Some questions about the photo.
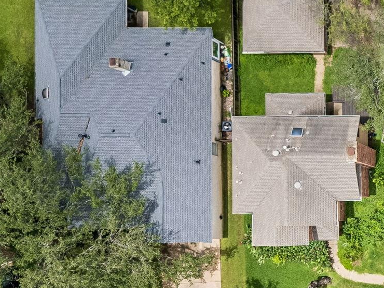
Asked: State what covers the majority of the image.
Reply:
buildings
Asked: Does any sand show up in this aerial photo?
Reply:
No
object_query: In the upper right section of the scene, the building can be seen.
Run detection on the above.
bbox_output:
[242,0,329,55]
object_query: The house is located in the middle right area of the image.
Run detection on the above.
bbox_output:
[231,93,379,246]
